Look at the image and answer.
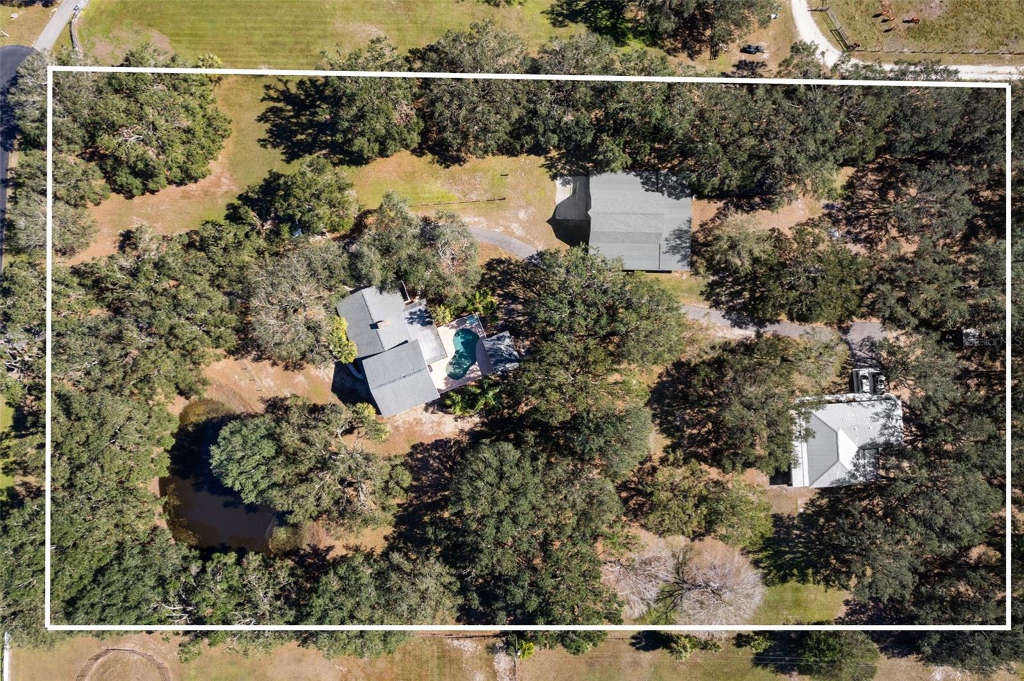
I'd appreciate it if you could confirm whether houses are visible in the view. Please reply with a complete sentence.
Yes, there is a house in the image.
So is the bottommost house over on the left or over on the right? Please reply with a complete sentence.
You can find the bottommost house on the right side of the picture.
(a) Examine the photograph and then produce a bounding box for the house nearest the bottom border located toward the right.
[789,400,896,487]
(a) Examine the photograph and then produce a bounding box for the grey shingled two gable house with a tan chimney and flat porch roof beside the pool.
[337,281,447,419]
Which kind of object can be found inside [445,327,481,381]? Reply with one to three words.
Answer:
swimming pool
